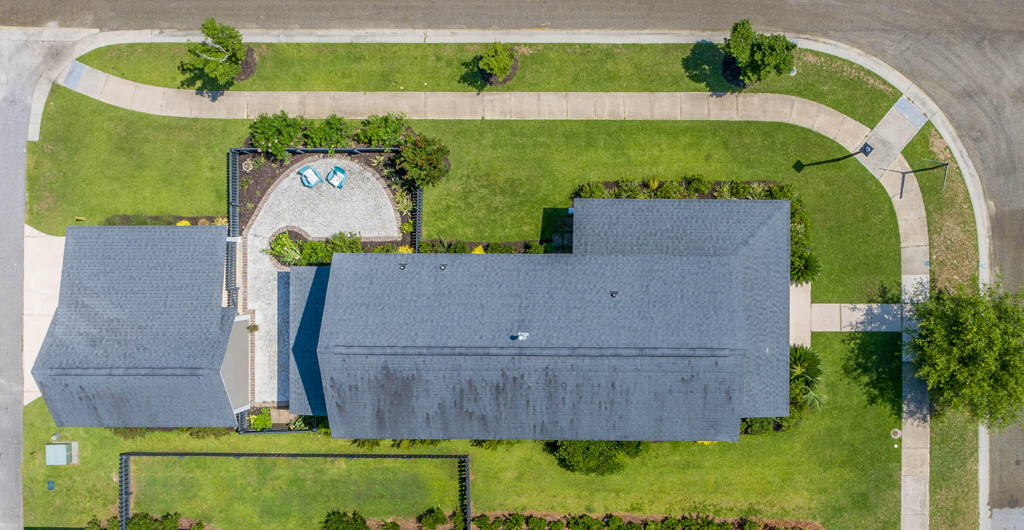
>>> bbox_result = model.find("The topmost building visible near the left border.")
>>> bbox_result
[33,226,251,427]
